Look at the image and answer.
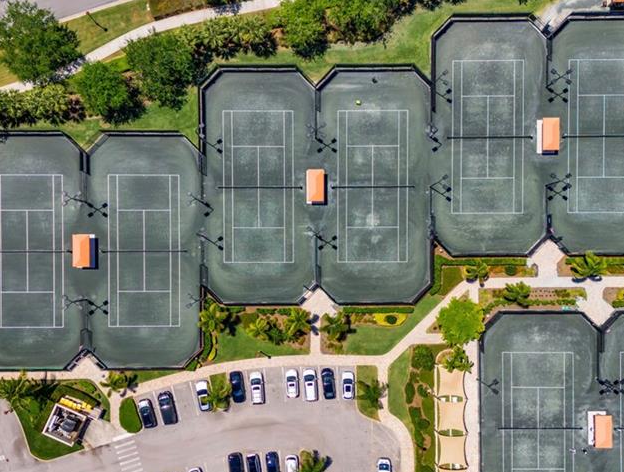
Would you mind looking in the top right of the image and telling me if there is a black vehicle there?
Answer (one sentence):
No, I see no black vehicle in the top right of the image.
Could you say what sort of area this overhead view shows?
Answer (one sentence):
This image shows a sports ground.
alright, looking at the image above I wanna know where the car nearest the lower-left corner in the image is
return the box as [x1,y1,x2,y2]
[139,397,157,429]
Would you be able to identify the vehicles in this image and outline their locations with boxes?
[321,367,335,398]
[302,368,318,402]
[139,397,157,429]
[229,452,244,472]
[286,456,298,472]
[246,452,261,472]
[374,455,392,472]
[249,372,264,403]
[285,368,299,398]
[341,370,355,399]
[159,392,177,424]
[266,451,281,472]
[195,379,211,411]
[230,371,247,402]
